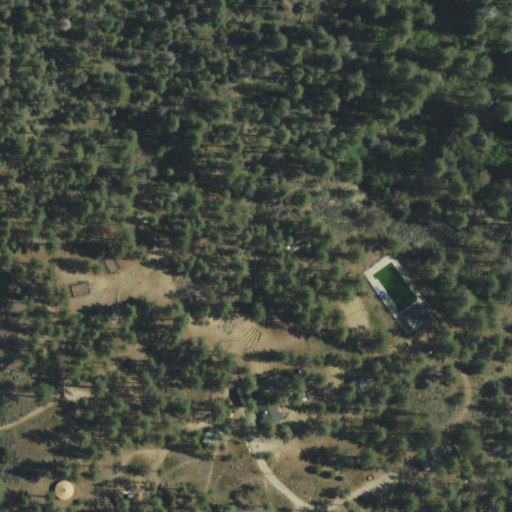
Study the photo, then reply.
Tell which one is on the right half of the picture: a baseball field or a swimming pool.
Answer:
swimming pool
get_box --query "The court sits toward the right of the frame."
[344,295,371,329]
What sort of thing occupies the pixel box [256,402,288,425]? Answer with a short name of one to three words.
house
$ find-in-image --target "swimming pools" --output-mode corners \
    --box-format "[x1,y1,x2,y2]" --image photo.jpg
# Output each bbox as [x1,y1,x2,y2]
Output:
[364,256,432,334]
